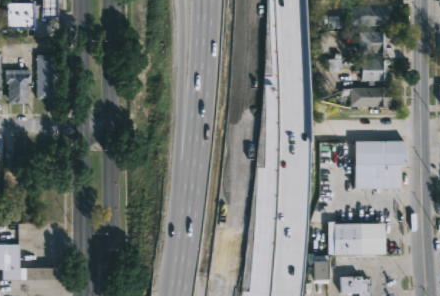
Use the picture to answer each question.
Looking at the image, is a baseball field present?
No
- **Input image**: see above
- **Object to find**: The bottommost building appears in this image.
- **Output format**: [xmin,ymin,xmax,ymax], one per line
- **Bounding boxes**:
[340,276,372,296]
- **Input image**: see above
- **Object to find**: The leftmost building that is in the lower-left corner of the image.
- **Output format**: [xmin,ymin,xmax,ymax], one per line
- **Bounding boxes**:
[0,244,28,280]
